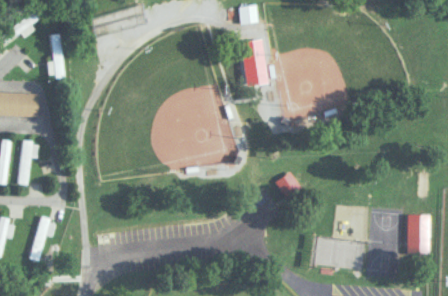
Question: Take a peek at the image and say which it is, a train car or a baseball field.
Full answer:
There is a baseball field in the scene.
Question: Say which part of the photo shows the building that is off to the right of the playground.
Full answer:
The building that is off to the right of the playground appears toward the bottom right of the photo.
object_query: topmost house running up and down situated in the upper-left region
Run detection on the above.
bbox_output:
[48,34,66,79]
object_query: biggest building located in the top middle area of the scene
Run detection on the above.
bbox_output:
[244,38,270,86]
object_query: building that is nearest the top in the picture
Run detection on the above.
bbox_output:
[238,2,259,25]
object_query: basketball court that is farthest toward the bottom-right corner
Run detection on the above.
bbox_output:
[368,208,402,274]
